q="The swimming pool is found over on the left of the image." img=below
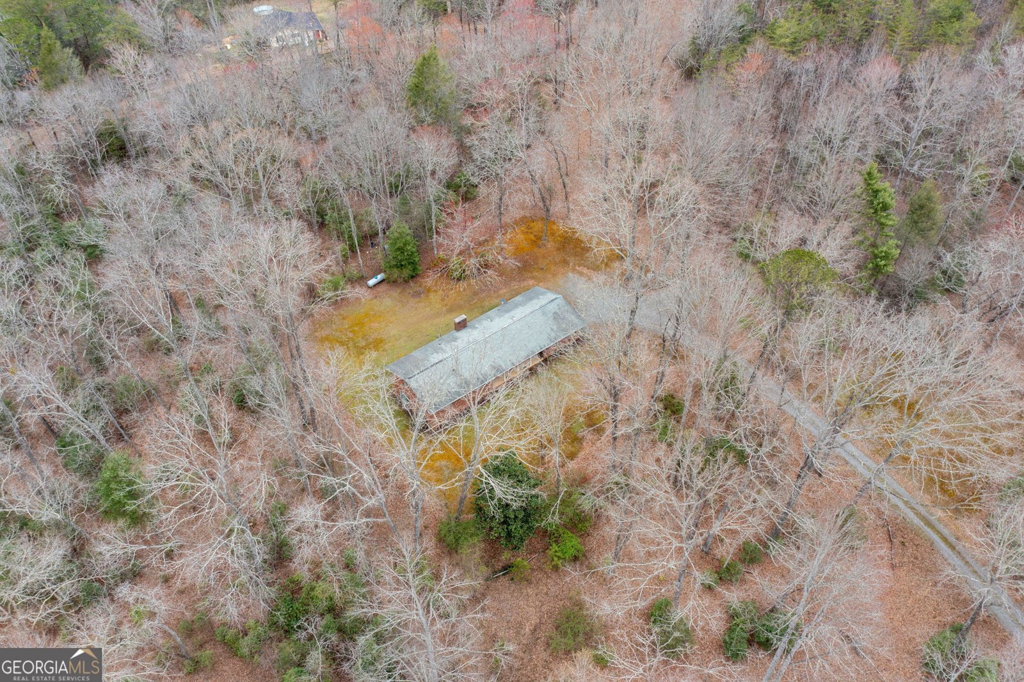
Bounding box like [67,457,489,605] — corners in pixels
[249,2,275,17]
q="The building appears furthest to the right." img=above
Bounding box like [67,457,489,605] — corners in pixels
[386,288,586,426]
